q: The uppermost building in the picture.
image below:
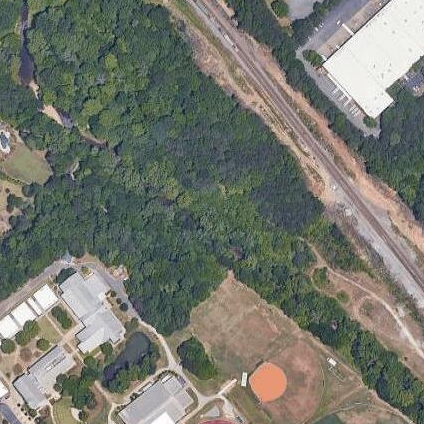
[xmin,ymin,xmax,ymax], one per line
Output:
[322,0,424,117]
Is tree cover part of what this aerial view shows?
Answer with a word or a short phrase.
Yes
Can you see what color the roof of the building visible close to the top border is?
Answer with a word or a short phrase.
white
